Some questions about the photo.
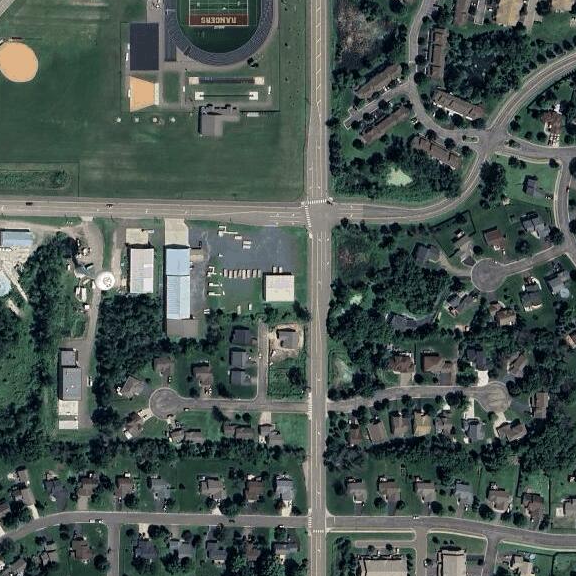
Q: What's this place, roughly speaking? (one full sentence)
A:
This looks like a residential area.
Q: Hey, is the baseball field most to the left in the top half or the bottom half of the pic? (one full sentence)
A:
The baseball field most to the left sits in the top half of the picture.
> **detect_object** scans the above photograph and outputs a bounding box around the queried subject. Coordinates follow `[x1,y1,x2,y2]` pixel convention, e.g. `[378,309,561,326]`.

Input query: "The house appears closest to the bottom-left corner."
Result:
[1,557,25,576]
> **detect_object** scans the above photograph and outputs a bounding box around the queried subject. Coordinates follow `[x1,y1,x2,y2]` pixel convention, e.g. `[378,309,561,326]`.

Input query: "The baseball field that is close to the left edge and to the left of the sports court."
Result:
[0,41,38,82]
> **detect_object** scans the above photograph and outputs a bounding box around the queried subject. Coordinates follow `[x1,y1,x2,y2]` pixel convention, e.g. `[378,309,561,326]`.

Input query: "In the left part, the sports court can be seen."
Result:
[130,22,159,69]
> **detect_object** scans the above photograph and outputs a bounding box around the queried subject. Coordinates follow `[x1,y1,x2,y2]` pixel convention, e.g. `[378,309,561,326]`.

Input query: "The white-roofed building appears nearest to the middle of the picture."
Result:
[263,272,295,301]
